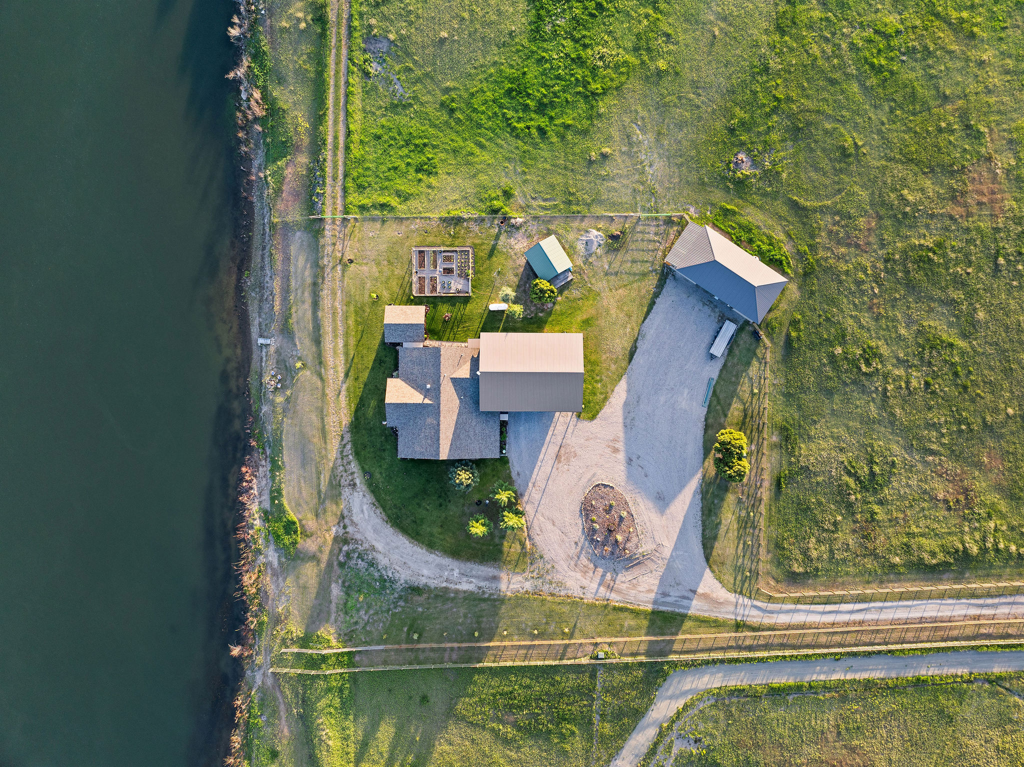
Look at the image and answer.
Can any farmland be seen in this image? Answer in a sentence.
Yes, farmland can be seen from above here.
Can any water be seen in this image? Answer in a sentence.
Yes, the picture does contain water.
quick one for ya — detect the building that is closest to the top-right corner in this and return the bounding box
[665,222,789,325]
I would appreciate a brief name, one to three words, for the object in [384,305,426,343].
shed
